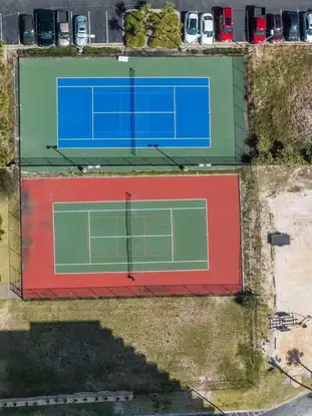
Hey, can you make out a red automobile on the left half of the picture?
No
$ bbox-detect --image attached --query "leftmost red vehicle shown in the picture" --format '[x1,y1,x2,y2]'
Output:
[217,7,235,43]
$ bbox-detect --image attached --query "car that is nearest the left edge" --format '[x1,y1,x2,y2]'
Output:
[22,13,37,46]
